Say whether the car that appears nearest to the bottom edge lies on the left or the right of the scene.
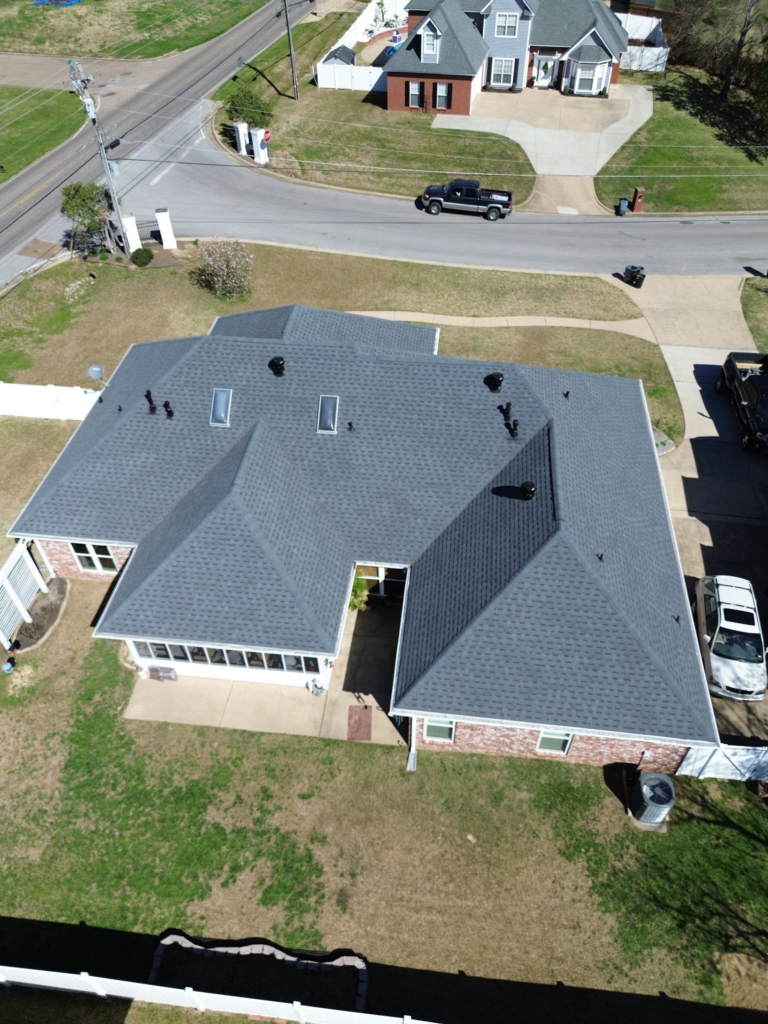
right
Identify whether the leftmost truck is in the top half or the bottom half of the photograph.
top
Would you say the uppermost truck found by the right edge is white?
No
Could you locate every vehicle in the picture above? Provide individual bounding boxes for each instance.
[692,575,768,709]
[418,177,518,221]
[721,350,768,451]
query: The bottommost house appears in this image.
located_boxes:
[7,304,720,774]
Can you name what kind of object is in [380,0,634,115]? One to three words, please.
house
